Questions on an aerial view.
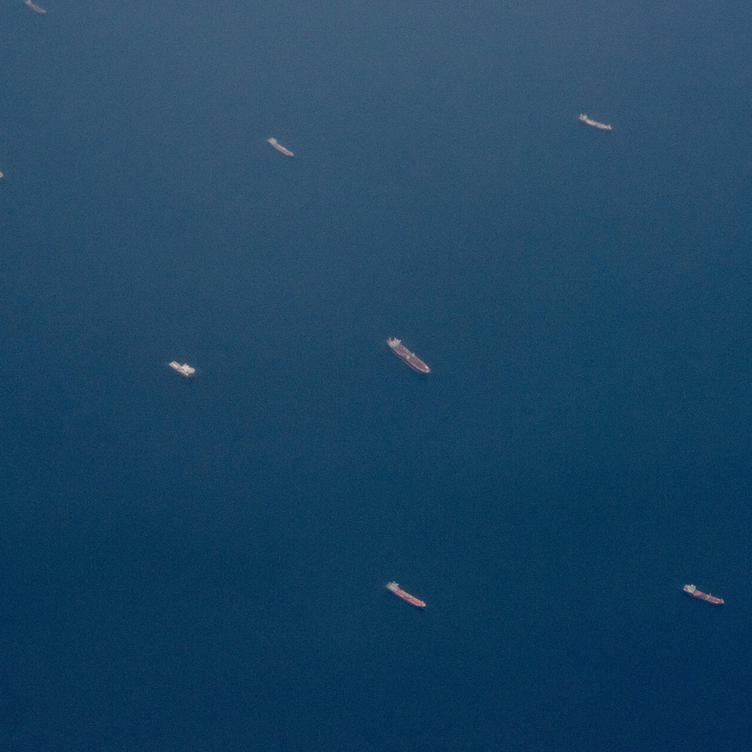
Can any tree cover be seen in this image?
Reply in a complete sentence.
No, there's no tree cover in this view.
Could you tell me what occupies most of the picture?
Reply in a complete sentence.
For the most part, this view shows water.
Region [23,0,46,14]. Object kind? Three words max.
ship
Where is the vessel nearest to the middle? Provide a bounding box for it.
[386,339,431,373]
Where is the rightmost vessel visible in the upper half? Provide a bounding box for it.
[579,116,612,131]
